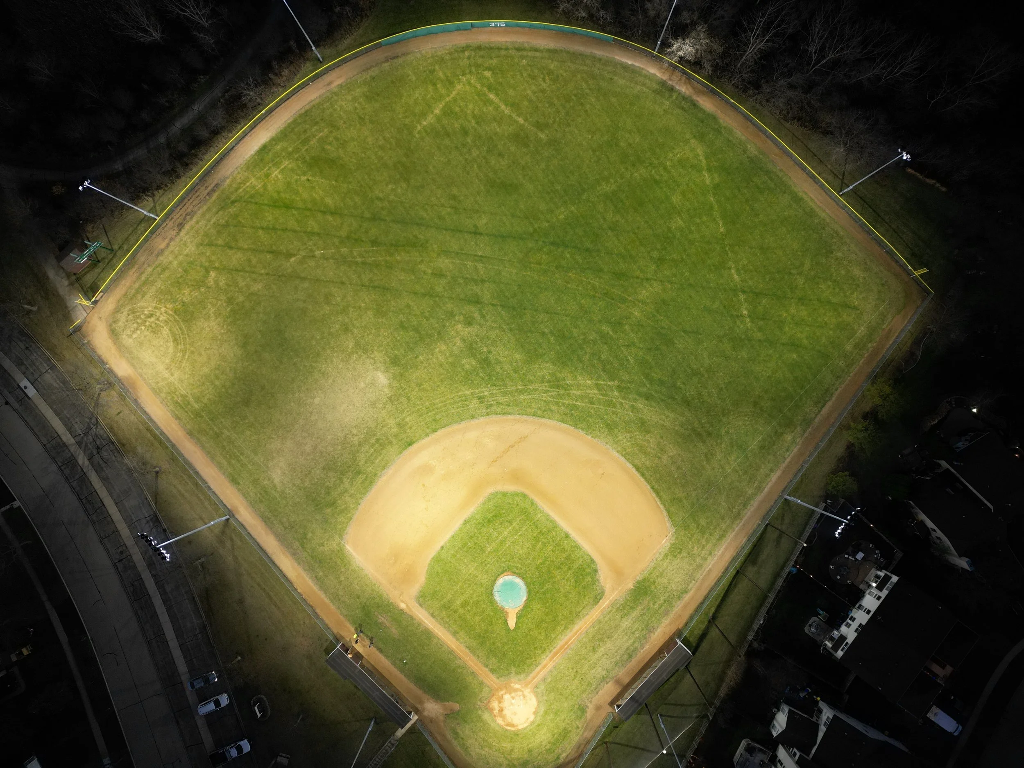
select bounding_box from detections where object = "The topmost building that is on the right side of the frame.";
[924,410,1024,507]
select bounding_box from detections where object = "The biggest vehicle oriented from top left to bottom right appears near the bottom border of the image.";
[929,707,965,737]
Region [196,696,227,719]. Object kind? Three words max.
car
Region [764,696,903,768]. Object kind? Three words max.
house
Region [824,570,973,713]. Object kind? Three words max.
house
